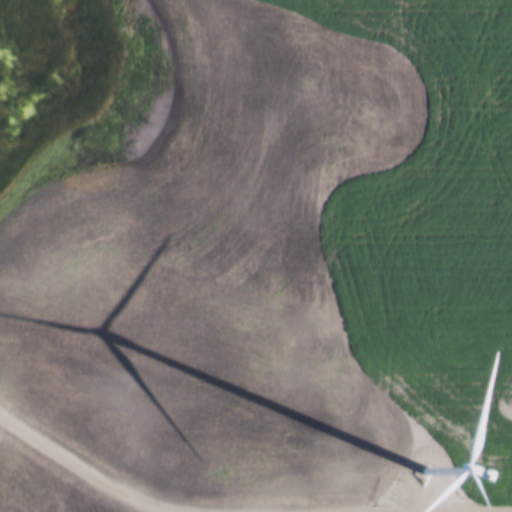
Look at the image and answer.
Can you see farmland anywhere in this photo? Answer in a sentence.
Yes, there is farmland in the image.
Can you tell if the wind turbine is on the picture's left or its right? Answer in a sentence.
It is on the right.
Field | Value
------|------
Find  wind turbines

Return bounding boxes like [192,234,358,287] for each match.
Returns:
[422,353,499,512]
